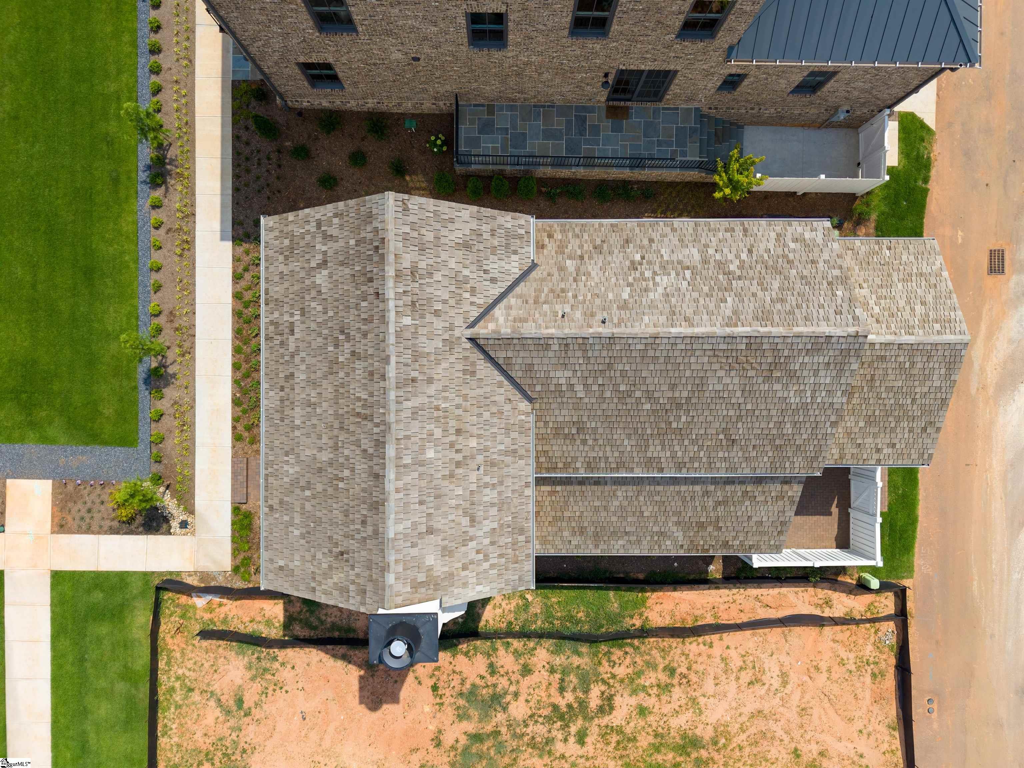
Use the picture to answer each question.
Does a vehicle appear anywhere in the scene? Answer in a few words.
No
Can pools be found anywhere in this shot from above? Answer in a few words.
No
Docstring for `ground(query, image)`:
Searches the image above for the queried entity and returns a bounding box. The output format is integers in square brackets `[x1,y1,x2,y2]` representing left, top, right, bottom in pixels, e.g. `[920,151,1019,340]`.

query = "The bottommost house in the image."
[257,190,975,671]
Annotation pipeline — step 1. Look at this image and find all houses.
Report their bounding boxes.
[257,190,975,671]
[201,0,983,131]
